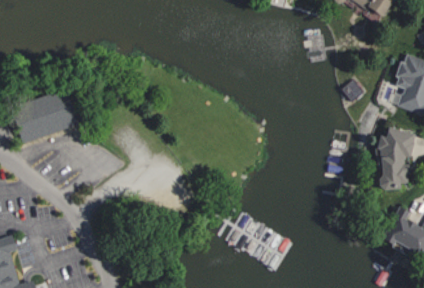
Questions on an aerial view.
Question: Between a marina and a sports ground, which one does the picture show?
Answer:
marina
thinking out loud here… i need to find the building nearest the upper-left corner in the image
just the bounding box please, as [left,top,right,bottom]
[19,99,70,140]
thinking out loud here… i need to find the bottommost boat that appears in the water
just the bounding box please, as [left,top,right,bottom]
[376,271,390,288]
